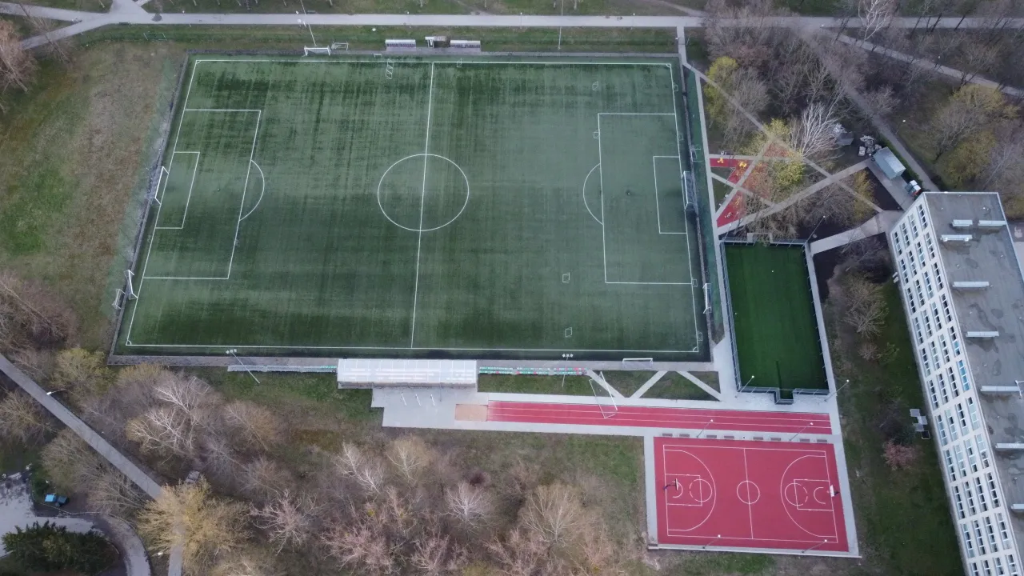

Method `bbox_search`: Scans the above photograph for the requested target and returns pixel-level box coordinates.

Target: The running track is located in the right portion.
[487,399,832,434]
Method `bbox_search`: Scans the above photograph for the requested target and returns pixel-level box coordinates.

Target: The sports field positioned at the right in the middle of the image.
[723,233,828,402]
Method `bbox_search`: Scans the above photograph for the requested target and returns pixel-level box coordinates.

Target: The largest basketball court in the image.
[654,437,849,552]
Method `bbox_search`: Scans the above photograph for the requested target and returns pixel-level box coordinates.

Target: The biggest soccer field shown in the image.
[112,52,711,362]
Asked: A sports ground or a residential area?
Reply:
sports ground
